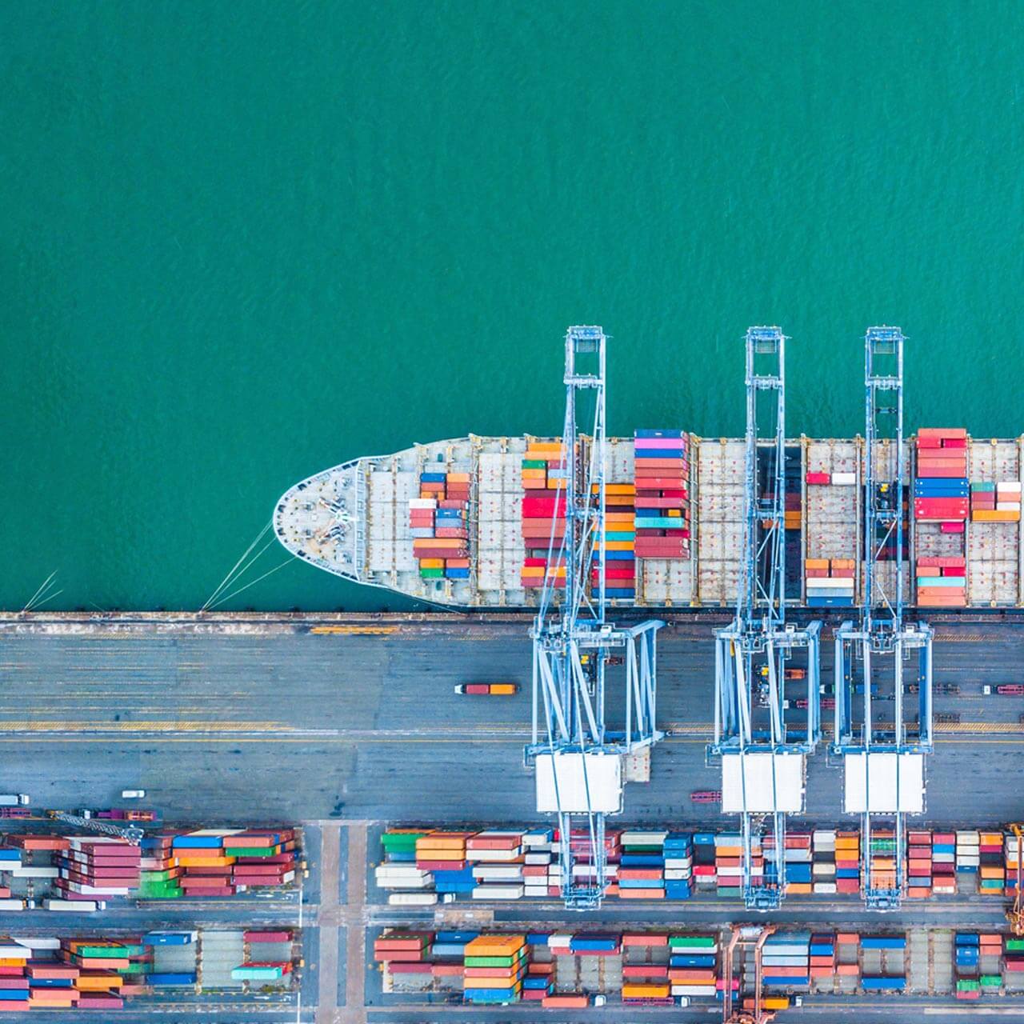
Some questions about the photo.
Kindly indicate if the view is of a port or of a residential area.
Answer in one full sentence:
It's a port.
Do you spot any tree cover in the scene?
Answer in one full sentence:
No, there's no tree cover in this view.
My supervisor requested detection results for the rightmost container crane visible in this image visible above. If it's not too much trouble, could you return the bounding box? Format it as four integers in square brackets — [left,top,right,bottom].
[1004,823,1024,945]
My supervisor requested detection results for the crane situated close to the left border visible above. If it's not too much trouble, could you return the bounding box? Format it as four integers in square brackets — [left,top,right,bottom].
[35,810,144,845]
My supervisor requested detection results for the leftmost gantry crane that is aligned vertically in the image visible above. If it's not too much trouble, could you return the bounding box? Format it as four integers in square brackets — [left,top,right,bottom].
[524,321,671,910]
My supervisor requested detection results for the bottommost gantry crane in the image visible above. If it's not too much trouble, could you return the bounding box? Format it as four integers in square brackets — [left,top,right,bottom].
[720,928,776,1024]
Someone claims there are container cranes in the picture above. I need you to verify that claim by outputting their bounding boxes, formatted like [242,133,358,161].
[720,928,776,1024]
[705,321,830,910]
[1004,823,1024,945]
[828,321,941,910]
[524,321,671,910]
